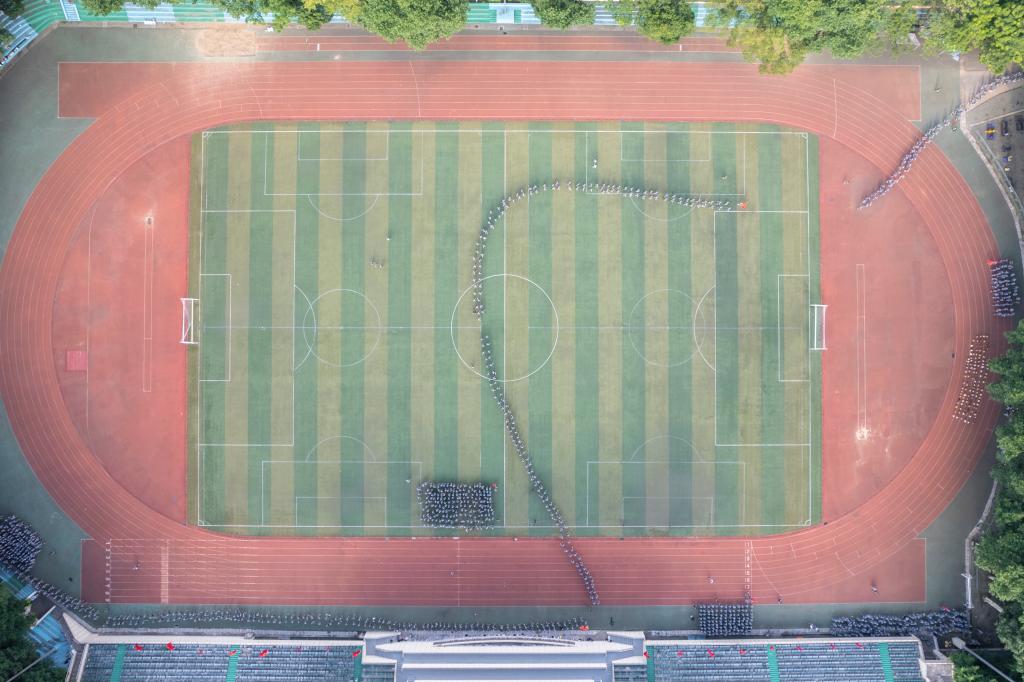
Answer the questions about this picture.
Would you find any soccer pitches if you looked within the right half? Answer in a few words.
Yes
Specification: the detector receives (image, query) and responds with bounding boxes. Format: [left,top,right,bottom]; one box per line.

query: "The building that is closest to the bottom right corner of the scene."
[924,654,955,682]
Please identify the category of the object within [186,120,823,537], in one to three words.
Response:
soccer field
